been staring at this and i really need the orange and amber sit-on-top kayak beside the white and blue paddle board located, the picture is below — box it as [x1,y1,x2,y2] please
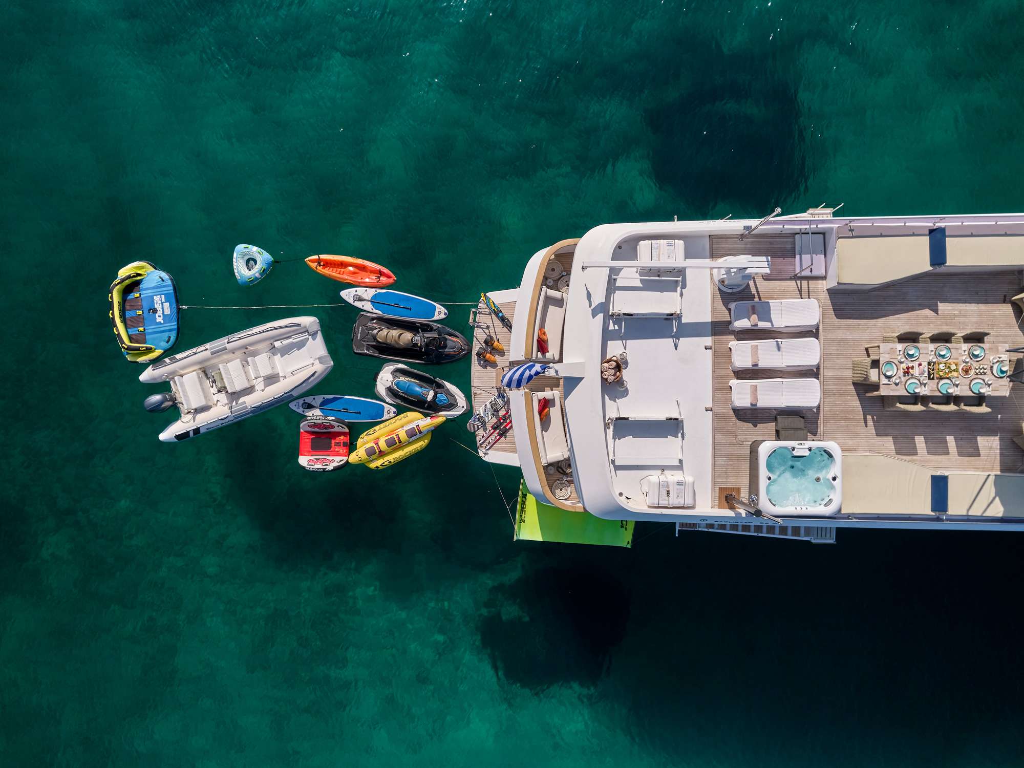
[304,256,398,287]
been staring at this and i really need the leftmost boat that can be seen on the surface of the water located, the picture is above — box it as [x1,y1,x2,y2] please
[139,316,334,441]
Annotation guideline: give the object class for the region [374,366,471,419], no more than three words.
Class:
boat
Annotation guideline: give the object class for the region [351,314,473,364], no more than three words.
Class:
boat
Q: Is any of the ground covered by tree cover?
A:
No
